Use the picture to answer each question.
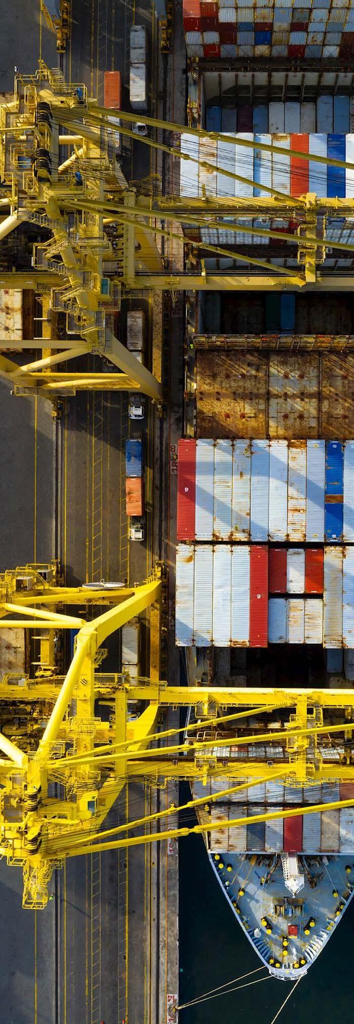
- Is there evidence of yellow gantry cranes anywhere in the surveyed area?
Yes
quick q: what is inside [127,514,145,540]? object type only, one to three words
vehicle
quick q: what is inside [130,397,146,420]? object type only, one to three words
vehicle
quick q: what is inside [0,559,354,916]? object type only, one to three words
container crane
